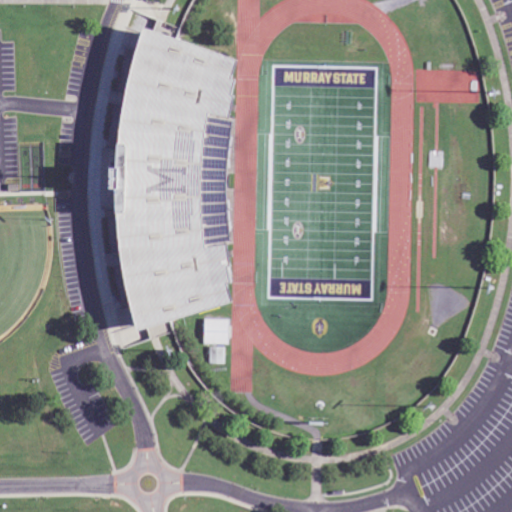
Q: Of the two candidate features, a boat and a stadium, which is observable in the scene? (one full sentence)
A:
This aerial view contains a stadium.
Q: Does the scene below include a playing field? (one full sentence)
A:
Yes, there is a playing field in the image.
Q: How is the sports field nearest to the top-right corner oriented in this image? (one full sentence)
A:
The sports field nearest to the top-right corner is laid out from top to bottom.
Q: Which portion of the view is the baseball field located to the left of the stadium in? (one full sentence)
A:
The baseball field located to the left of the stadium is in the left part of the image.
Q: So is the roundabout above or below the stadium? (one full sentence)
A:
You can see the roundabout below the stadium in the frame.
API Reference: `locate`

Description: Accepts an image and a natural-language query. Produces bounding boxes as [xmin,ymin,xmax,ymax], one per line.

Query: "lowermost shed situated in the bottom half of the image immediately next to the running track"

[210,346,226,364]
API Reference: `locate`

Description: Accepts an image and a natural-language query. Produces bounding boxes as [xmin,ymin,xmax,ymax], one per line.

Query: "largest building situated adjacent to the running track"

[204,318,230,346]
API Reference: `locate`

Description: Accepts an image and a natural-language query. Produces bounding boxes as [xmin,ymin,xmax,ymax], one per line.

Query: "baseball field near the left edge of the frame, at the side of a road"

[0,202,54,343]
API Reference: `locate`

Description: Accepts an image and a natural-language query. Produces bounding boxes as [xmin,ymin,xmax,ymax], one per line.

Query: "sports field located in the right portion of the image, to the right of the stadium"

[257,62,390,352]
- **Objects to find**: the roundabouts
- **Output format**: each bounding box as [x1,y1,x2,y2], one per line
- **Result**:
[115,448,184,512]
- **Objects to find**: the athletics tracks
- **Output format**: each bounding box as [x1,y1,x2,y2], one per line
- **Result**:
[231,0,414,392]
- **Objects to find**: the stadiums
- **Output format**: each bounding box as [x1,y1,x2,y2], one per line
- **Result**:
[108,29,237,331]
